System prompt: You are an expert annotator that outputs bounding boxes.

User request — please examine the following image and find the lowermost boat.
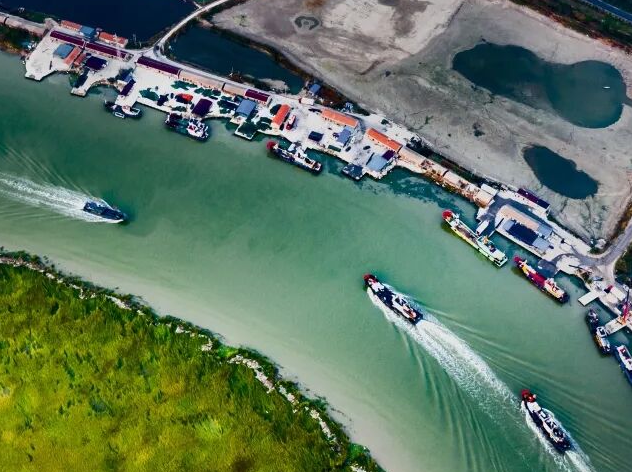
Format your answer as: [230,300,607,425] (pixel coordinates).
[522,390,578,454]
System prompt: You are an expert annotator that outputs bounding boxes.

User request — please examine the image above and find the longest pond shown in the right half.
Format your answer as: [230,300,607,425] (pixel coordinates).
[453,44,627,129]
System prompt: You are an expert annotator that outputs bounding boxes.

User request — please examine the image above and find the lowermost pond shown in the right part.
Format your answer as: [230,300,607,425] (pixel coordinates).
[523,146,597,200]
